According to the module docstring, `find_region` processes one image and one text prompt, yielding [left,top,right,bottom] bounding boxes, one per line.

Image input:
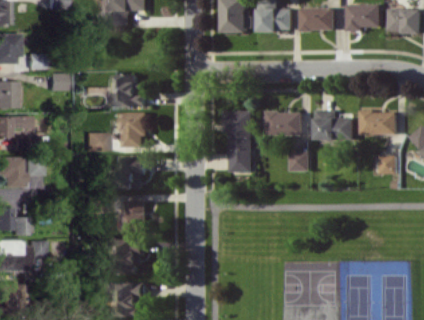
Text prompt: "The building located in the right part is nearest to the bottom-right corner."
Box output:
[373,156,398,175]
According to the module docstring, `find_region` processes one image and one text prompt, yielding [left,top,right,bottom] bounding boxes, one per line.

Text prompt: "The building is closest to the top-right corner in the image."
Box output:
[388,9,420,35]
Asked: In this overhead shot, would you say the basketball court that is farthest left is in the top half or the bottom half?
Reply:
bottom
